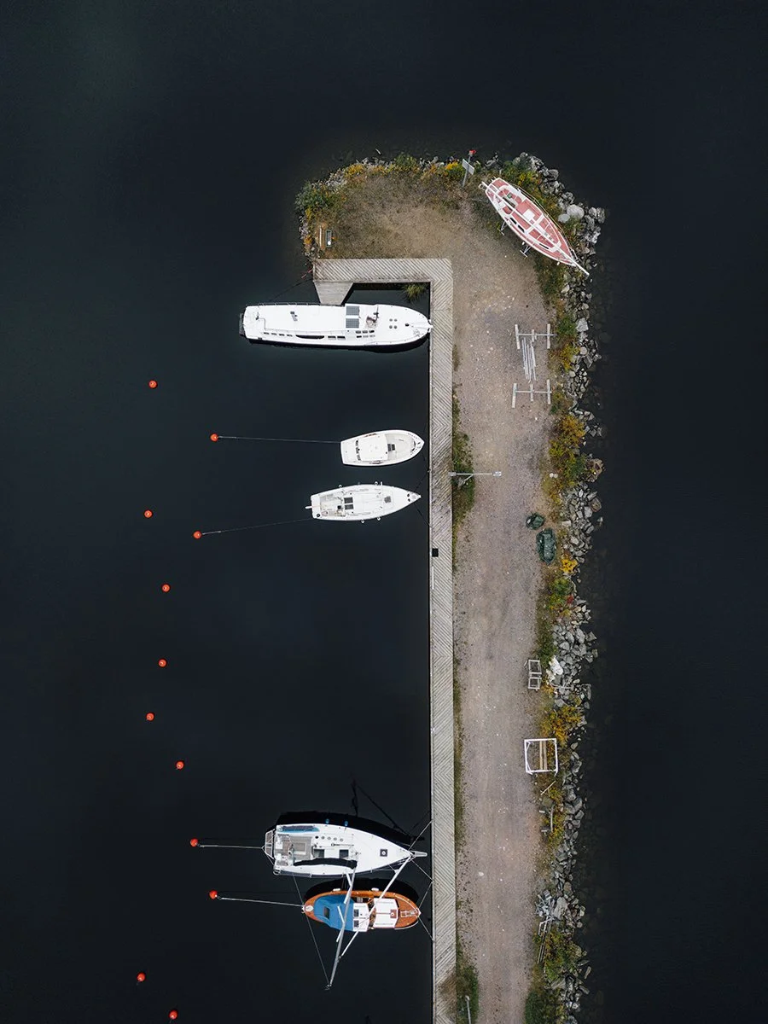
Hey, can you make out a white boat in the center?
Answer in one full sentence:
Yes, you'll find a white boat in the center.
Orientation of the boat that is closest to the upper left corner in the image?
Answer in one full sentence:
The boat that is closest to the upper left corner runs from side to side in the image.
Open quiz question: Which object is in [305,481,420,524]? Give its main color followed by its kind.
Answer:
white boat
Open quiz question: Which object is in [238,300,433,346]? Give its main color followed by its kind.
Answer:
white boat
